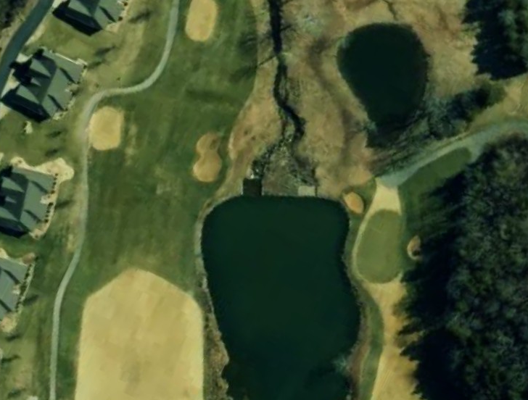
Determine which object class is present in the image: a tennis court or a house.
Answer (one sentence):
I can see a house in this picture.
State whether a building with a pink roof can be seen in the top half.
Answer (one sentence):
No, no building with a pink roof is visible in the top half.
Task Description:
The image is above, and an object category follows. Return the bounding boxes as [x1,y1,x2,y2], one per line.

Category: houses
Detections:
[15,45,84,121]
[0,159,56,232]
[67,0,126,35]
[0,253,27,323]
